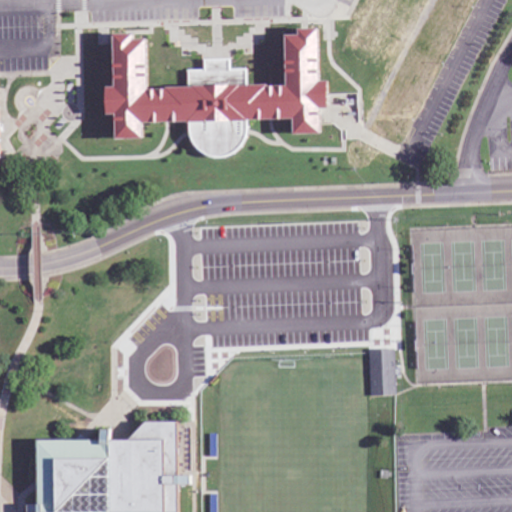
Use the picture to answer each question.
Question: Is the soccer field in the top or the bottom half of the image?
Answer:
bottom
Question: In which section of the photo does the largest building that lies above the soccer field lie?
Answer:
top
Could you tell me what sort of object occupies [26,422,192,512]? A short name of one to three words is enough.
building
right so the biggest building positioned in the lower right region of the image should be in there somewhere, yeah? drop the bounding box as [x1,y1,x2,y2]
[370,349,396,396]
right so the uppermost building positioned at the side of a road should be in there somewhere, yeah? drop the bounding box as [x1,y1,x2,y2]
[103,28,330,158]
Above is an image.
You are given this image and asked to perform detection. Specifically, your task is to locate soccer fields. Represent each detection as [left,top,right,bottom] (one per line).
[218,354,368,512]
